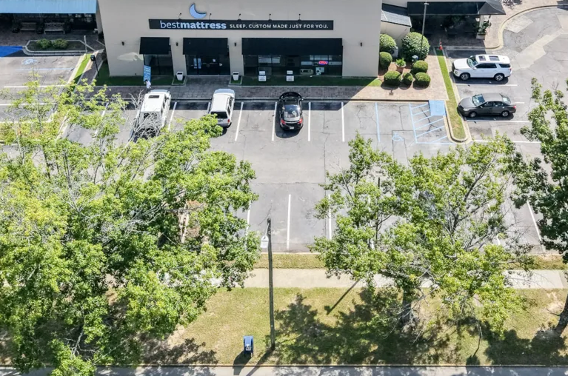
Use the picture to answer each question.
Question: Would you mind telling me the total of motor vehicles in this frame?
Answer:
5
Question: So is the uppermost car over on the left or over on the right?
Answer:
right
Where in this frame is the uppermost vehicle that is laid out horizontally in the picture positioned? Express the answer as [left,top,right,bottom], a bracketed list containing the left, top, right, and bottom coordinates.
[450,52,512,80]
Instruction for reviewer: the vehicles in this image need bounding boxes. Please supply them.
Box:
[450,52,512,80]
[135,89,170,131]
[456,89,519,115]
[275,94,303,133]
[206,90,234,128]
